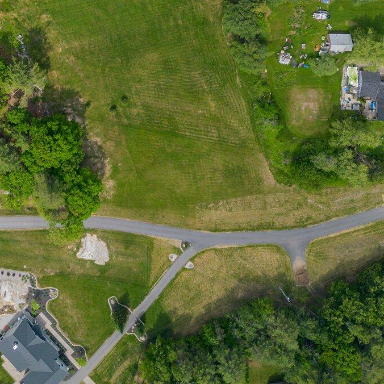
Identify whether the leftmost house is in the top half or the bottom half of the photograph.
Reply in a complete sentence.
You can find the leftmost house in the bottom half.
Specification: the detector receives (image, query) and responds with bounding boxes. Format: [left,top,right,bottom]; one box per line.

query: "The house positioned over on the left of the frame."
[0,309,75,384]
